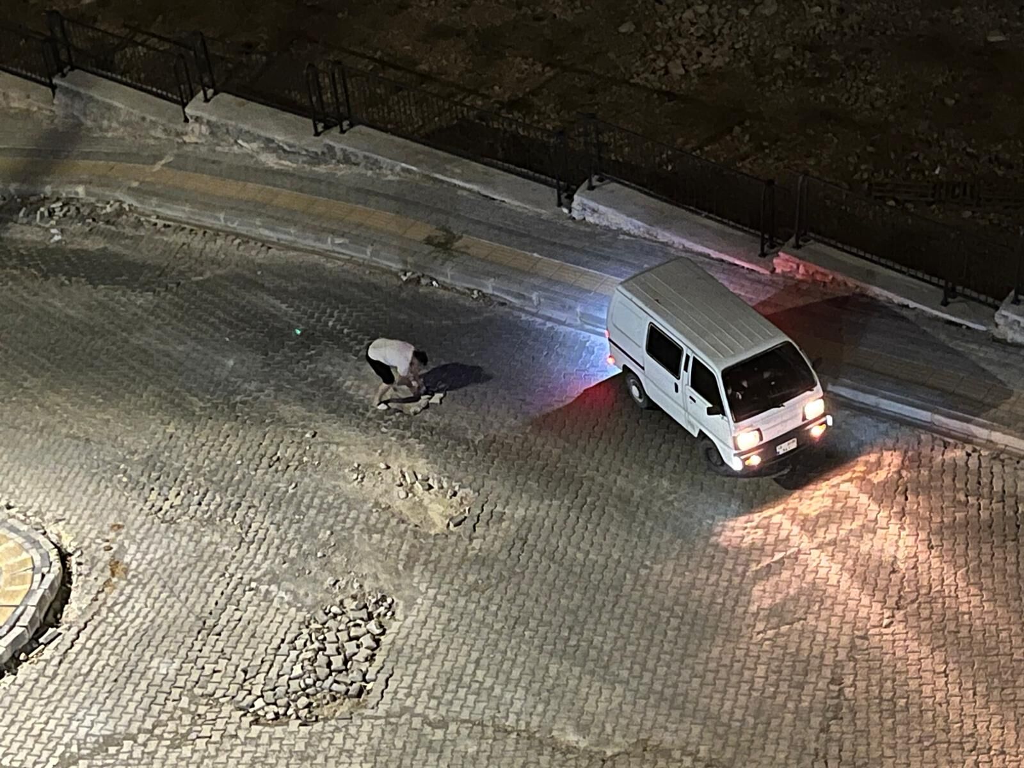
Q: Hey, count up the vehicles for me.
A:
1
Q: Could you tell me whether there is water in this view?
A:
No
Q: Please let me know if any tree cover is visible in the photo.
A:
No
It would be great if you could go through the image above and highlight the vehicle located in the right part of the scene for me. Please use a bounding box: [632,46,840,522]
[612,262,833,473]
